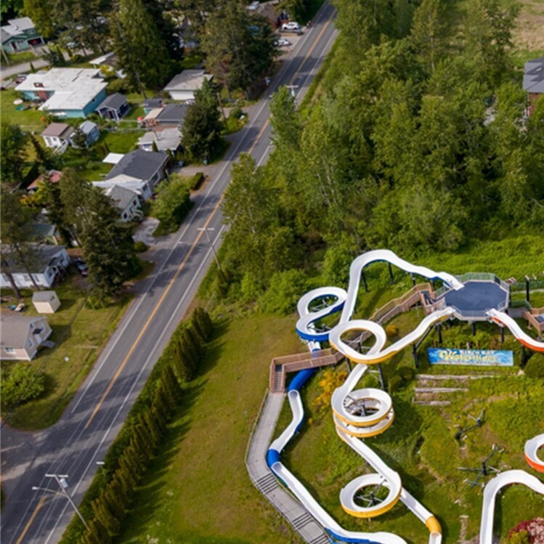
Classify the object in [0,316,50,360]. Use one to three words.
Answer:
house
